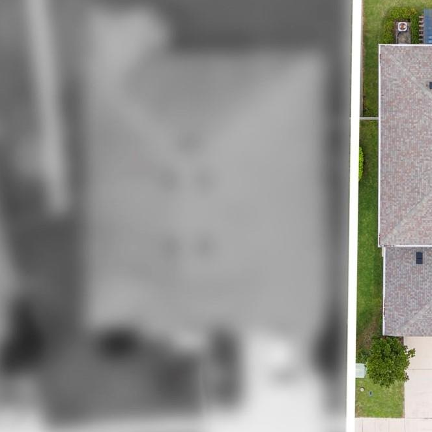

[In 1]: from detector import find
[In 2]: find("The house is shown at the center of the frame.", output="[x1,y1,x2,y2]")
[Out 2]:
[86,9,326,357]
